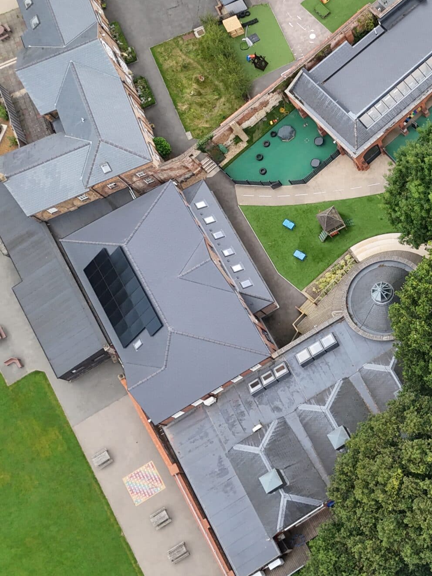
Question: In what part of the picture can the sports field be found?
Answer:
bottom left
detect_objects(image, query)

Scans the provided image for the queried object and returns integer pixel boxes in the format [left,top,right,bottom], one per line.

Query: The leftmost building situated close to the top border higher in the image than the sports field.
[0,0,162,223]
